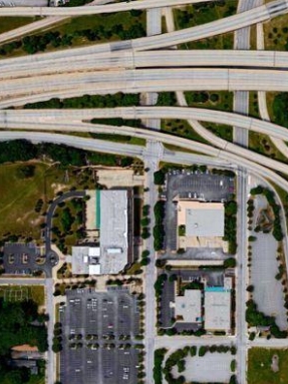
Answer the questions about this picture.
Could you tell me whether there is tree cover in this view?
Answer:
Yes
